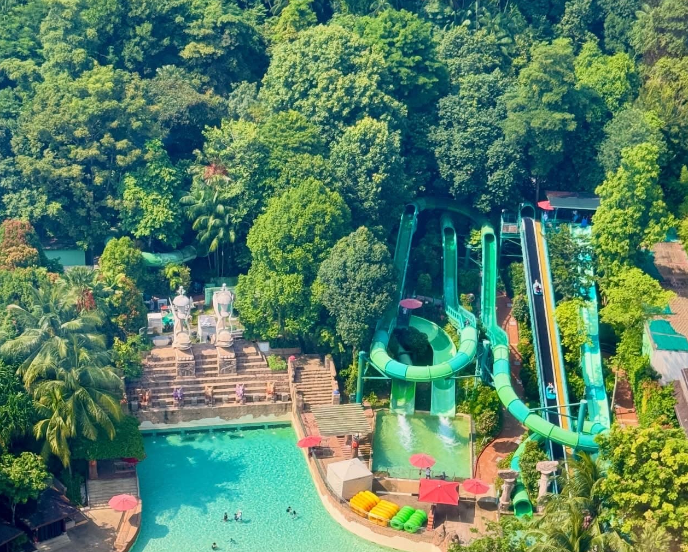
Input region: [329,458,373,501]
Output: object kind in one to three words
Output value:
tent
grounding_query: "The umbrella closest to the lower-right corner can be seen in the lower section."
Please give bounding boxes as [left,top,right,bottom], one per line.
[463,479,489,507]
